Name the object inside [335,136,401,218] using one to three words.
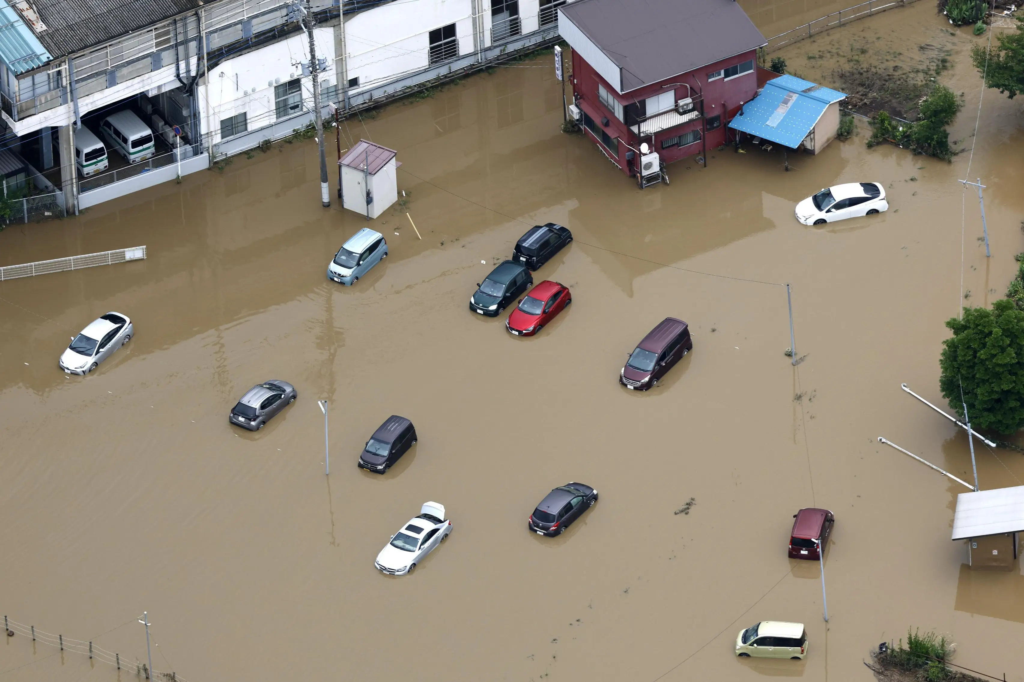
shed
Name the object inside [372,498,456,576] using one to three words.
car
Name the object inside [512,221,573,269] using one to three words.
car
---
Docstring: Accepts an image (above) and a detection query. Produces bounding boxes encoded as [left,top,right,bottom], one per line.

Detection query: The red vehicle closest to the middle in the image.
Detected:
[504,277,573,336]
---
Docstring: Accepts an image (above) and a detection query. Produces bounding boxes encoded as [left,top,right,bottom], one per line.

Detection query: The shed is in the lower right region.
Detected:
[951,482,1024,573]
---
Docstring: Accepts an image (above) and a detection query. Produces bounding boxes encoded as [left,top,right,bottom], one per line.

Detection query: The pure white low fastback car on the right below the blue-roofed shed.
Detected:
[793,181,889,225]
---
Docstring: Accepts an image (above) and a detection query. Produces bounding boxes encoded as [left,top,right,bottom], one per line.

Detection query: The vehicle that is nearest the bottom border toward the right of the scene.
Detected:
[732,623,808,661]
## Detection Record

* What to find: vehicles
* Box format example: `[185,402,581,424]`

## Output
[793,181,889,225]
[504,277,573,336]
[326,227,387,286]
[469,259,533,317]
[619,315,695,391]
[512,221,573,269]
[71,125,108,176]
[732,623,808,661]
[372,498,456,576]
[227,376,298,432]
[357,413,418,474]
[57,311,135,376]
[525,479,599,539]
[789,510,831,562]
[100,111,155,163]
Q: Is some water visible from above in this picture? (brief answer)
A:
Yes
